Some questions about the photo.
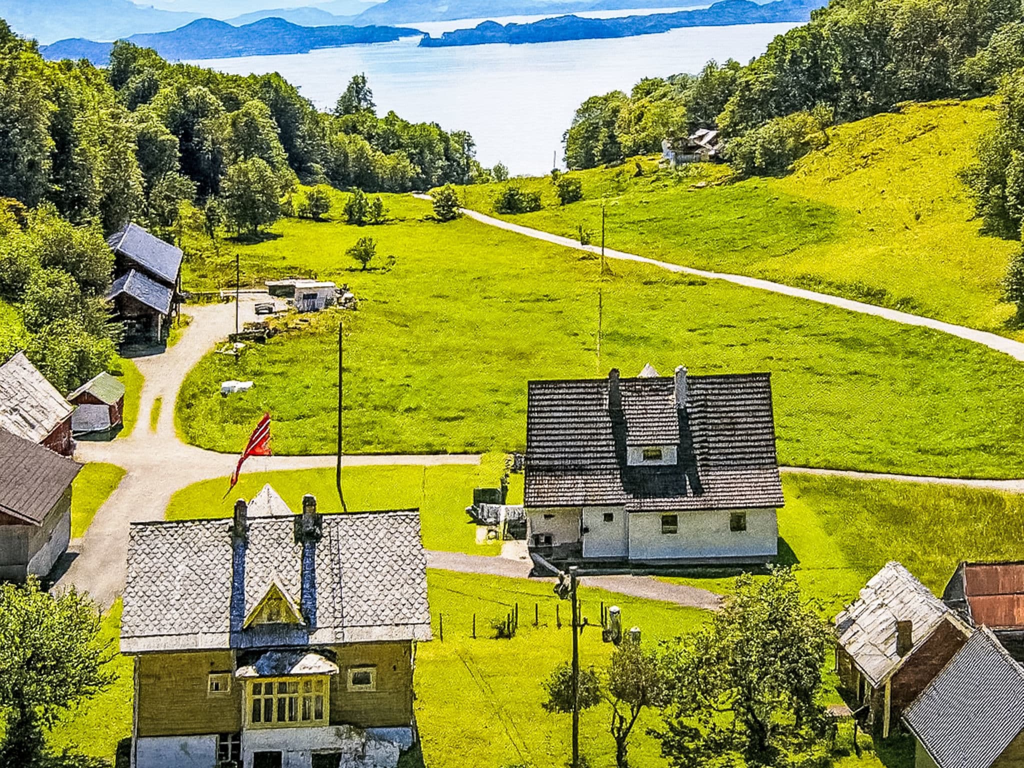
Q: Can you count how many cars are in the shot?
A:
1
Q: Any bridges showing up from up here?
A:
No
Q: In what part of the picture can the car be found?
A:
left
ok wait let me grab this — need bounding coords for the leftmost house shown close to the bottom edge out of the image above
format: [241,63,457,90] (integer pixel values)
[115,474,429,768]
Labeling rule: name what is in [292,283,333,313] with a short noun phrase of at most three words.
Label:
shed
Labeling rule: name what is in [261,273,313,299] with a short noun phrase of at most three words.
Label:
building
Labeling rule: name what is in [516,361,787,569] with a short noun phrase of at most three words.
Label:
house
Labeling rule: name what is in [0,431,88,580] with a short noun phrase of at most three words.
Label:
building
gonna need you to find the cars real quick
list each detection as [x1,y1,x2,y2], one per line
[253,295,276,318]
